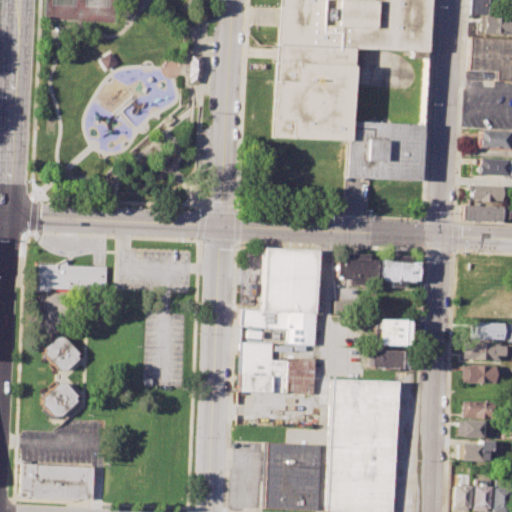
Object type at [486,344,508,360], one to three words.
house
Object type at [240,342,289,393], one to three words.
building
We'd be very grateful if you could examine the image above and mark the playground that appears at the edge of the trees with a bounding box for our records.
[82,61,182,156]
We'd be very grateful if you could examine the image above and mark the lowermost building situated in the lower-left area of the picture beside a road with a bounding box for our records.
[17,466,96,500]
